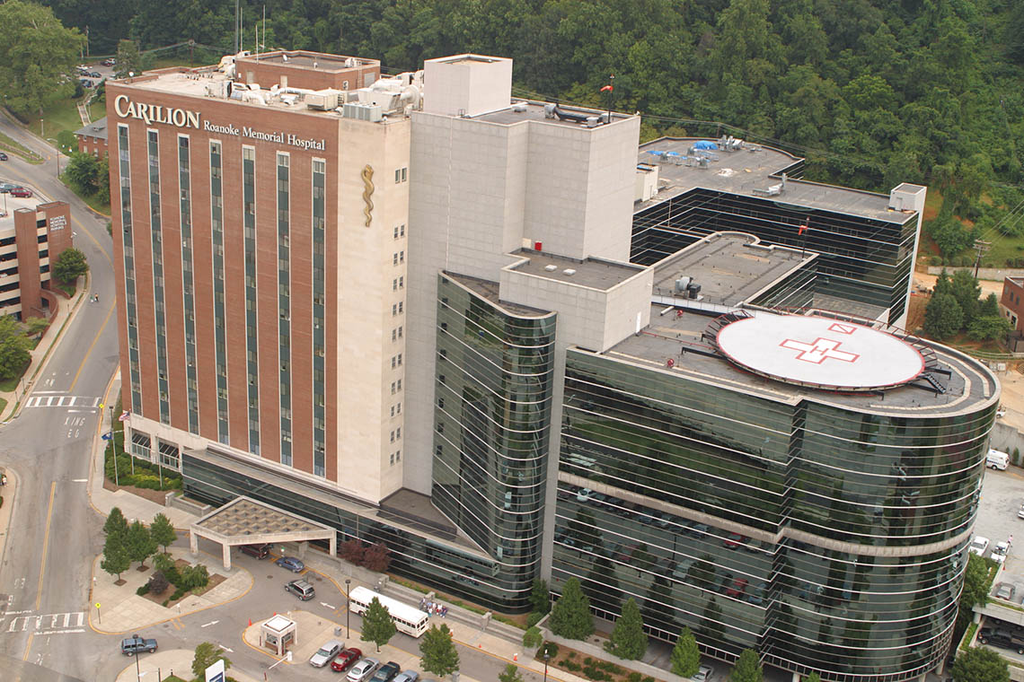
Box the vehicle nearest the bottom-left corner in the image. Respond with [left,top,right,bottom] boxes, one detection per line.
[122,633,156,651]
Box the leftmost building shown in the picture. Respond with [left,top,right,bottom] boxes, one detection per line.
[0,170,75,323]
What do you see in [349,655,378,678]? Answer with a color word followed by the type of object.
white car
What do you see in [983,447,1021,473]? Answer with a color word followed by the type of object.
white vehicle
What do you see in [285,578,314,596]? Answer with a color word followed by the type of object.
gray car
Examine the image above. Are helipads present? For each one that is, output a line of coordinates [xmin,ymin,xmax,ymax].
[682,310,953,412]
